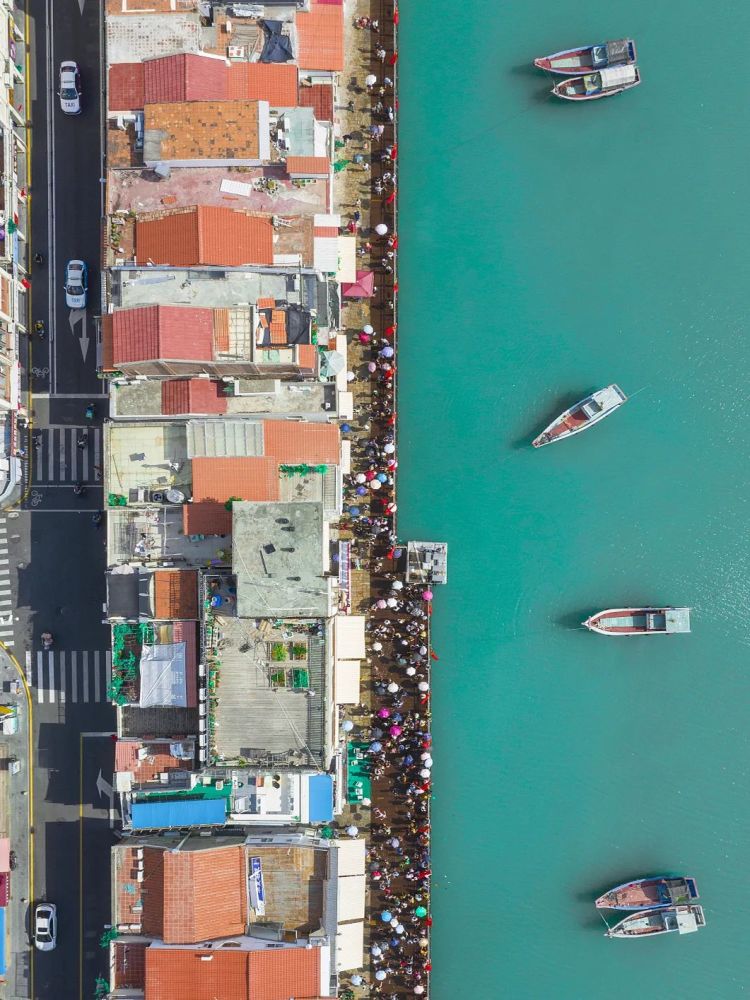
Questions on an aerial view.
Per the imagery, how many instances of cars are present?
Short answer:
3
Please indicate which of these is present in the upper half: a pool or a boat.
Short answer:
boat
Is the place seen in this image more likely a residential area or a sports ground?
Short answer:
residential area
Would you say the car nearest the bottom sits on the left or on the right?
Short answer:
left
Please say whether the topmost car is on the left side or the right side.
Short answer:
left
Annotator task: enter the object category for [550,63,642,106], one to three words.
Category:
boat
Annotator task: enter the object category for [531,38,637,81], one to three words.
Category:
boat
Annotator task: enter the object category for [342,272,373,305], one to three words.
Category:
tent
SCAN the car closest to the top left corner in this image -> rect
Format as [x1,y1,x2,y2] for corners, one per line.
[58,62,85,117]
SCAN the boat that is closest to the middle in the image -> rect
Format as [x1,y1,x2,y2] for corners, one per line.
[530,383,629,446]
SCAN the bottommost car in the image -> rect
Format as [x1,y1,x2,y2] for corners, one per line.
[32,898,61,949]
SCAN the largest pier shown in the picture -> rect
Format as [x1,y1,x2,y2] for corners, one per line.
[406,541,448,585]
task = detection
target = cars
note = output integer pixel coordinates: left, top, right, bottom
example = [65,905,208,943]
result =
[58,62,85,117]
[32,898,61,949]
[63,260,91,311]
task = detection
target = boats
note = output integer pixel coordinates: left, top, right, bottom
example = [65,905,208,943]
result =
[550,63,642,106]
[580,604,691,635]
[602,899,705,939]
[530,383,629,446]
[531,38,637,81]
[593,869,698,909]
